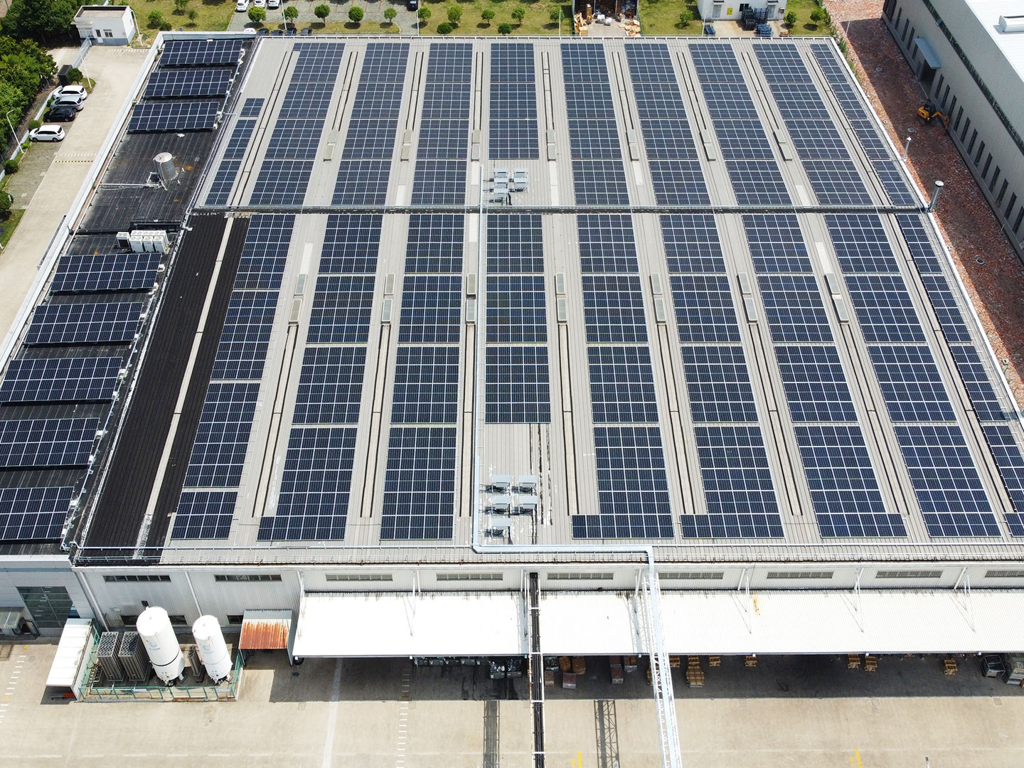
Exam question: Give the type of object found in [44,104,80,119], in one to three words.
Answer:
car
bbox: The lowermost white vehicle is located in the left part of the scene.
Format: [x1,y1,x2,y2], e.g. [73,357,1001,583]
[32,124,69,140]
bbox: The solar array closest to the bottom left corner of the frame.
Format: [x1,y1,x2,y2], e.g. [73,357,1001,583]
[0,487,72,538]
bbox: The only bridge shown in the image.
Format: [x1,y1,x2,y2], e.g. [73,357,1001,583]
[642,577,685,768]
